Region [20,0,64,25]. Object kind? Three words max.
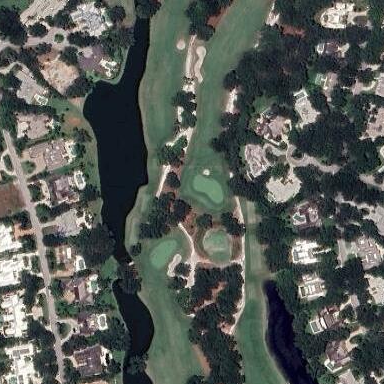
house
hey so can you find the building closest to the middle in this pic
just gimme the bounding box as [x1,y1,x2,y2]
[239,139,271,176]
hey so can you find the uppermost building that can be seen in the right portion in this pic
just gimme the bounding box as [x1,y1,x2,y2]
[325,1,354,29]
